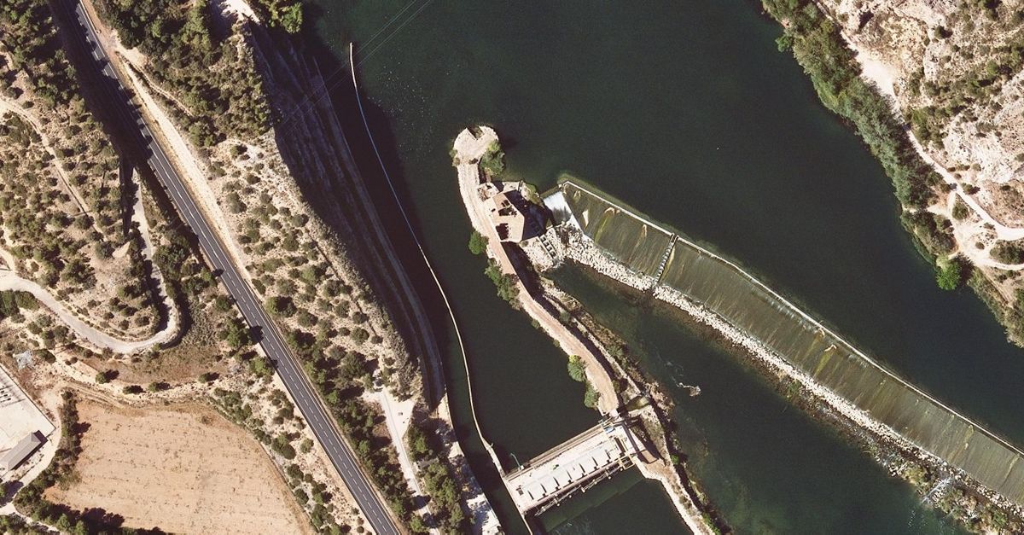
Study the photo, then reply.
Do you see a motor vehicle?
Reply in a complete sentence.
No, I can see no motor vehicle in this picture.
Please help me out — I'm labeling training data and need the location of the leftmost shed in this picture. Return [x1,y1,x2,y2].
[0,432,41,470]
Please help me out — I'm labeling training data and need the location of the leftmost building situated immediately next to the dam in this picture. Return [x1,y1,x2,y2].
[484,193,547,243]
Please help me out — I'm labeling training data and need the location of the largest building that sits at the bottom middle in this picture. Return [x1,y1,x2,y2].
[508,412,648,516]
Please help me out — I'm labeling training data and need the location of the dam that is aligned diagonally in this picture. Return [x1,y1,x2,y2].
[557,181,1024,512]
